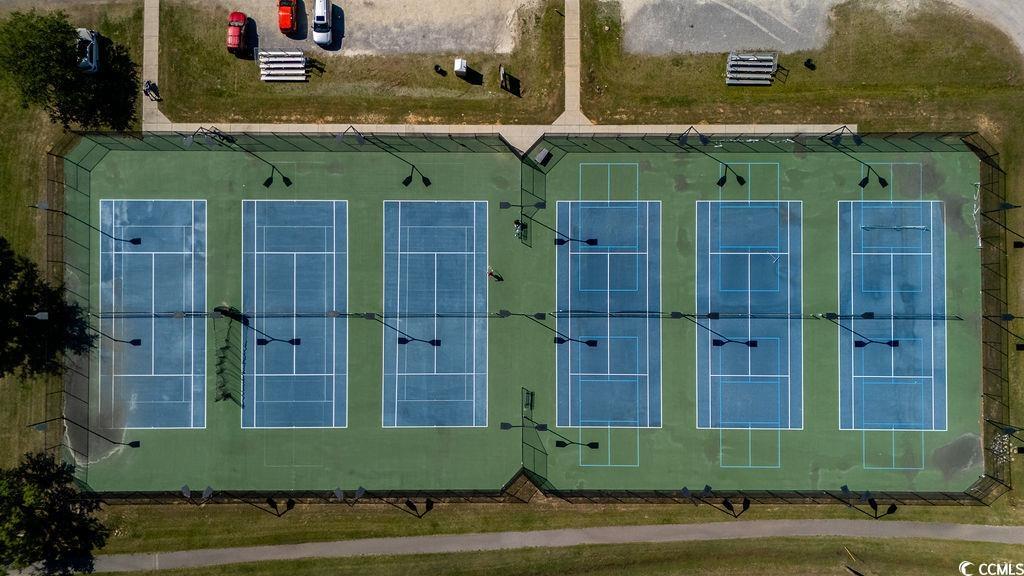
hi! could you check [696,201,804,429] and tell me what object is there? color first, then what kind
blue tennis court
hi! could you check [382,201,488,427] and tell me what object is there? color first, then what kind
blue tennis court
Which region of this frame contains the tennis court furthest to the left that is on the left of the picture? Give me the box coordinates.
[99,200,207,429]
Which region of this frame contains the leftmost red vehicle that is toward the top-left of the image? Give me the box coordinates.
[225,12,248,53]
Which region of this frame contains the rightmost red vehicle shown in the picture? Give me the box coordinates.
[276,0,299,34]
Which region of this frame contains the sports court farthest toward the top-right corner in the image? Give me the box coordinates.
[862,163,923,292]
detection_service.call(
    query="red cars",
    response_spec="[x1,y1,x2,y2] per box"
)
[225,12,248,53]
[276,0,299,34]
